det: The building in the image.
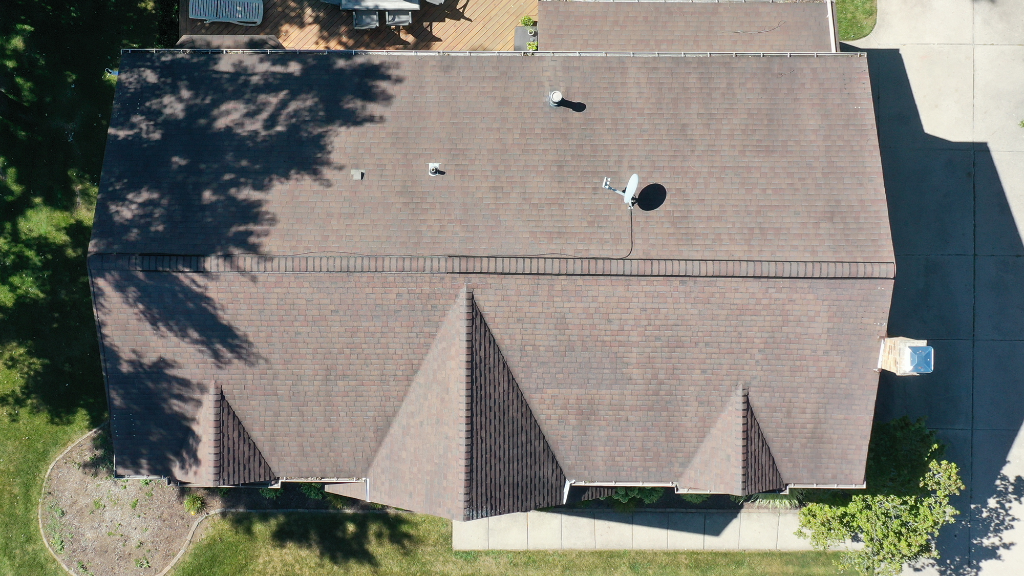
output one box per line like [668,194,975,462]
[88,0,933,522]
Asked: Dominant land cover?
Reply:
buildings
